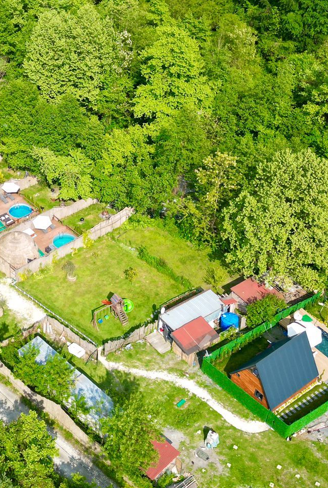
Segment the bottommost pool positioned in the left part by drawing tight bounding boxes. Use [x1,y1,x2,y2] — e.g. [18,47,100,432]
[51,230,75,249]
